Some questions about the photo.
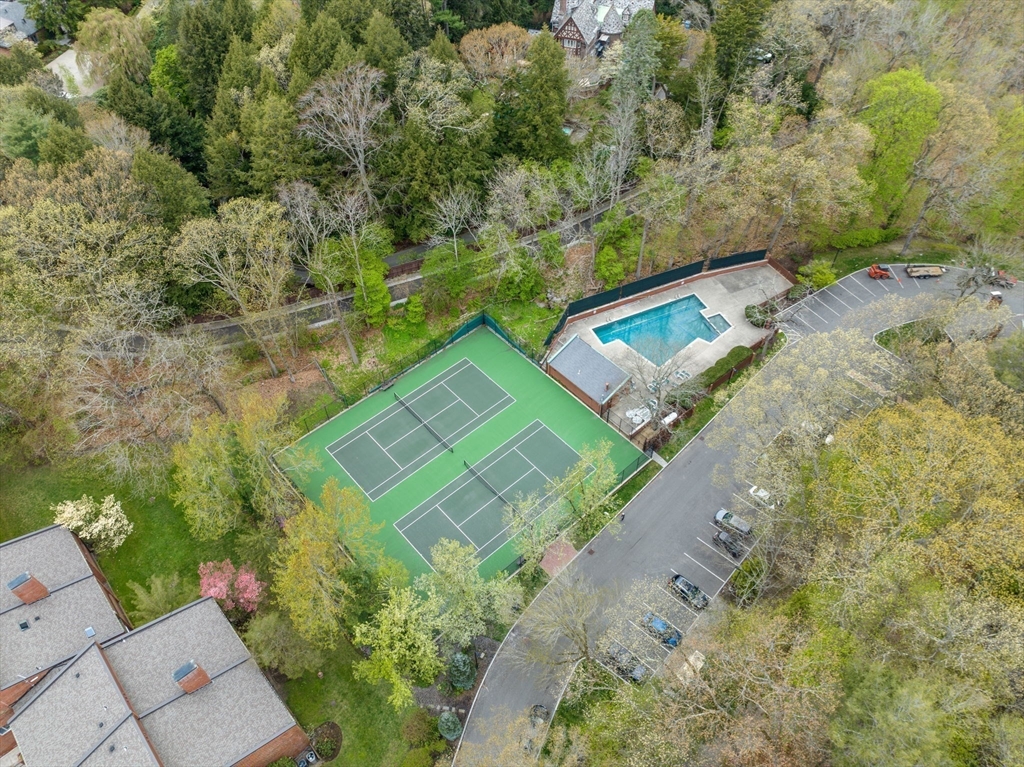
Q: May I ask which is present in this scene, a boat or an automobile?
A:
automobile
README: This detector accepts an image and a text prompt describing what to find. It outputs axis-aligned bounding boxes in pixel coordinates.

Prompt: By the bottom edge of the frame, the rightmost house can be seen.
[99,599,310,767]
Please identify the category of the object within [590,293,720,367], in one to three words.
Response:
swimming pool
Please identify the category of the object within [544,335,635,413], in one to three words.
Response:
building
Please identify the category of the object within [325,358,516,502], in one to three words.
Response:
tennis court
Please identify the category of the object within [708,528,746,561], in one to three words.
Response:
car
